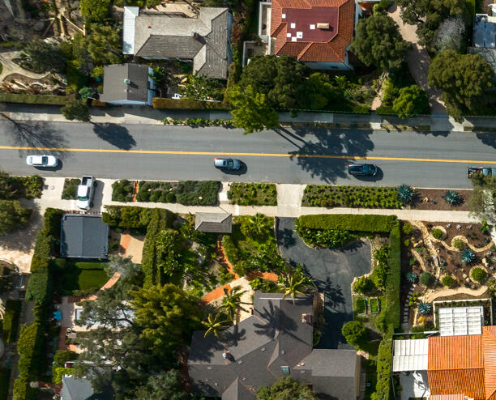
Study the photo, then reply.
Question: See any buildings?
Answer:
Yes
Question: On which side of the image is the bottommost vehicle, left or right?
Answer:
left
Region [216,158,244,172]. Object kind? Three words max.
car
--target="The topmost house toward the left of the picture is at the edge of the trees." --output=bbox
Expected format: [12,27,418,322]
[123,6,236,82]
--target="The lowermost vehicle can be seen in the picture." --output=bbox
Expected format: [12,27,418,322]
[76,173,96,210]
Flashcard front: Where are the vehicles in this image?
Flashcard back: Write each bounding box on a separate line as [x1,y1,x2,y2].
[27,154,61,169]
[216,158,244,172]
[76,173,96,210]
[468,165,496,180]
[348,163,379,178]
